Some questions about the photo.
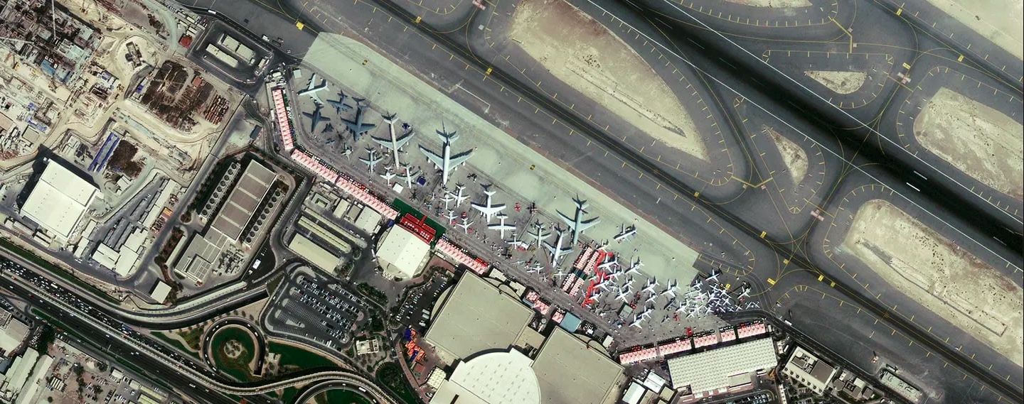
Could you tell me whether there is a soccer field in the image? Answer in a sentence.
No, I can't see a single soccer field in this photo.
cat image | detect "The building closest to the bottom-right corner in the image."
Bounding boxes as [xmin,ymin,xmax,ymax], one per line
[880,370,922,402]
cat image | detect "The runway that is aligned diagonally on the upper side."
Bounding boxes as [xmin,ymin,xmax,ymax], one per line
[586,0,1024,273]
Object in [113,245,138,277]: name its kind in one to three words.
shed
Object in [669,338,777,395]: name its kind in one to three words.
building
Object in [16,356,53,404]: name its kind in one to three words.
shed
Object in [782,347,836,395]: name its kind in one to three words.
building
